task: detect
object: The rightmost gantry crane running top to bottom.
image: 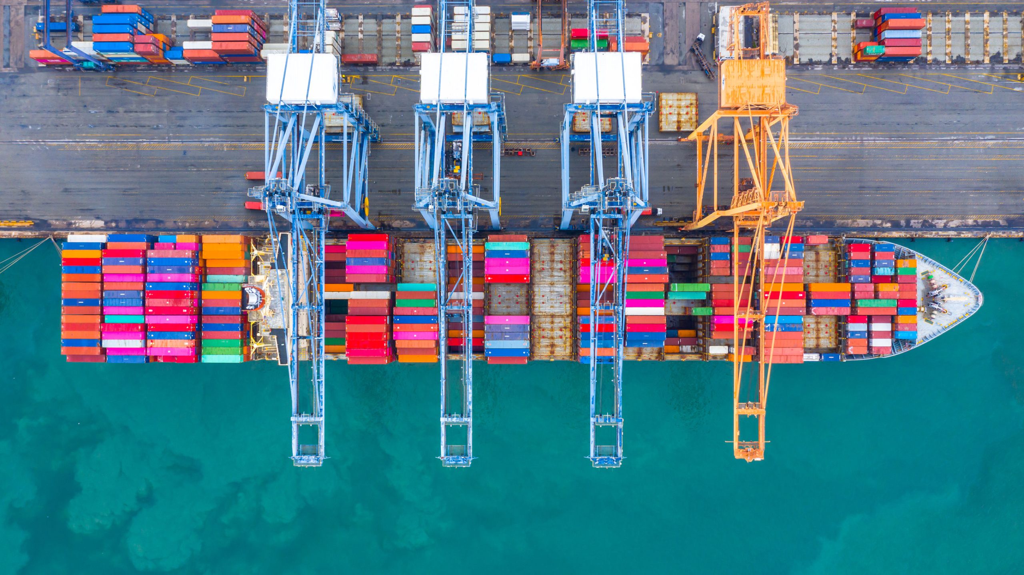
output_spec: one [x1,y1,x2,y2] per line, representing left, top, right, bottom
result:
[673,0,806,467]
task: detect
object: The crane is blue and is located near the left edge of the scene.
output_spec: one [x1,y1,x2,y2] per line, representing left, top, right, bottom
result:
[40,0,110,69]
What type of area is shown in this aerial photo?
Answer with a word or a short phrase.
port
